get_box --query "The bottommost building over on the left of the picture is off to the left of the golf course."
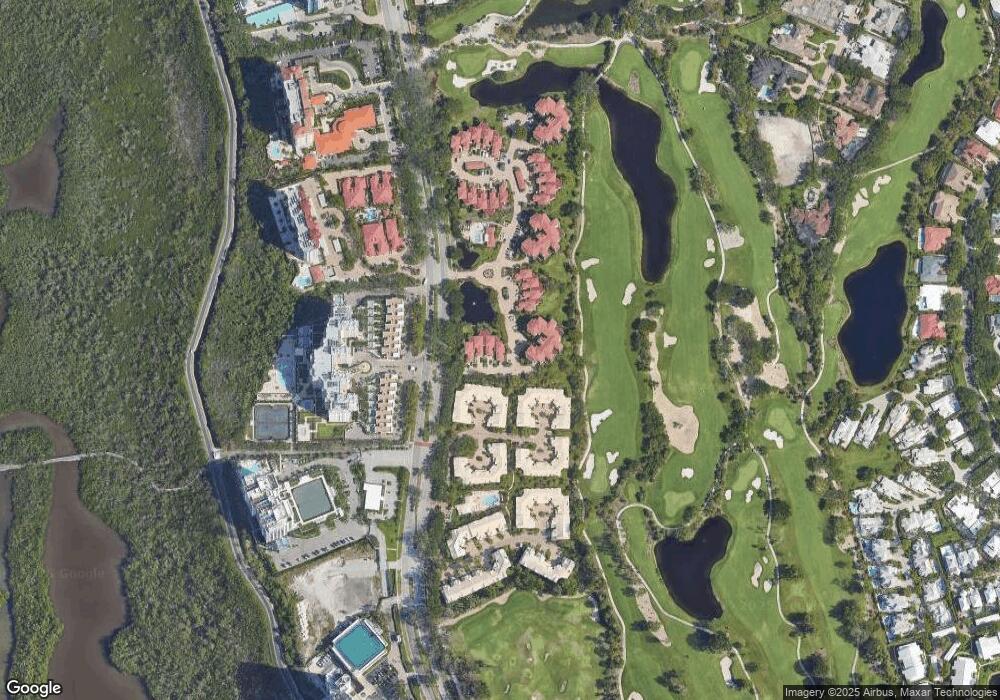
[323,670,352,700]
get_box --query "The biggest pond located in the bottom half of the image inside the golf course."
[655,515,731,620]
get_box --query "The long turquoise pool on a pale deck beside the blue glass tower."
[236,0,302,34]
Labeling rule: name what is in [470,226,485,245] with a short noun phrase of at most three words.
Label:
swimming pool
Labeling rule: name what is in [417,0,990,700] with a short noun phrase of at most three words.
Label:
golf course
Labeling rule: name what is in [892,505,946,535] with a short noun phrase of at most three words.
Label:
house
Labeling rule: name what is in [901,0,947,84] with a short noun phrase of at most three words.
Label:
pond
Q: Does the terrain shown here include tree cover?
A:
Yes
